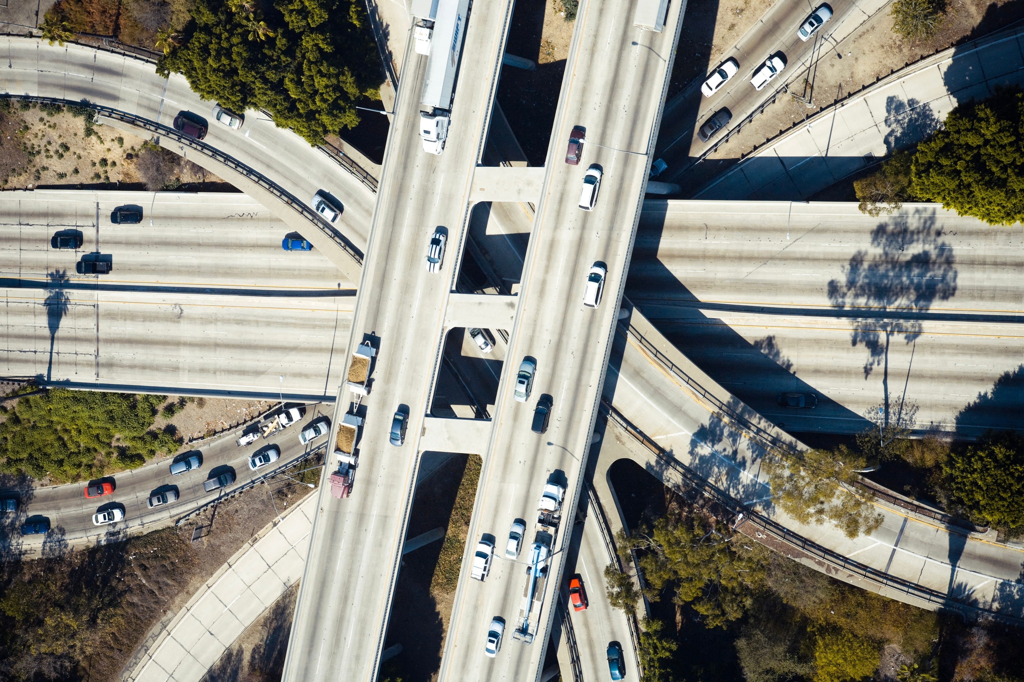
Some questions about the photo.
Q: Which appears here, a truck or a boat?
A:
truck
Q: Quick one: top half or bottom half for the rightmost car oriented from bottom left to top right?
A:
top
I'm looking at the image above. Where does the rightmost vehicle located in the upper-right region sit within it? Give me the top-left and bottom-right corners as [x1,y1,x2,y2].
[796,5,834,42]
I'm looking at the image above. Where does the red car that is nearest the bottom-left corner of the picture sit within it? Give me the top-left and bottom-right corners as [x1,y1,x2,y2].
[84,482,116,499]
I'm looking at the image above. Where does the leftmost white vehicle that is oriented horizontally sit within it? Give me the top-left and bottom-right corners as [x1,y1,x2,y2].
[92,508,126,526]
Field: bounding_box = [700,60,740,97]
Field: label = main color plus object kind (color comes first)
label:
white car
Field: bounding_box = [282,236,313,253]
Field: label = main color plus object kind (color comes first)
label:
blue car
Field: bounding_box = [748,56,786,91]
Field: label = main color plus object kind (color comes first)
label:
white truck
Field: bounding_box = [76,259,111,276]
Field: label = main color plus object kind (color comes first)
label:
black vehicle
